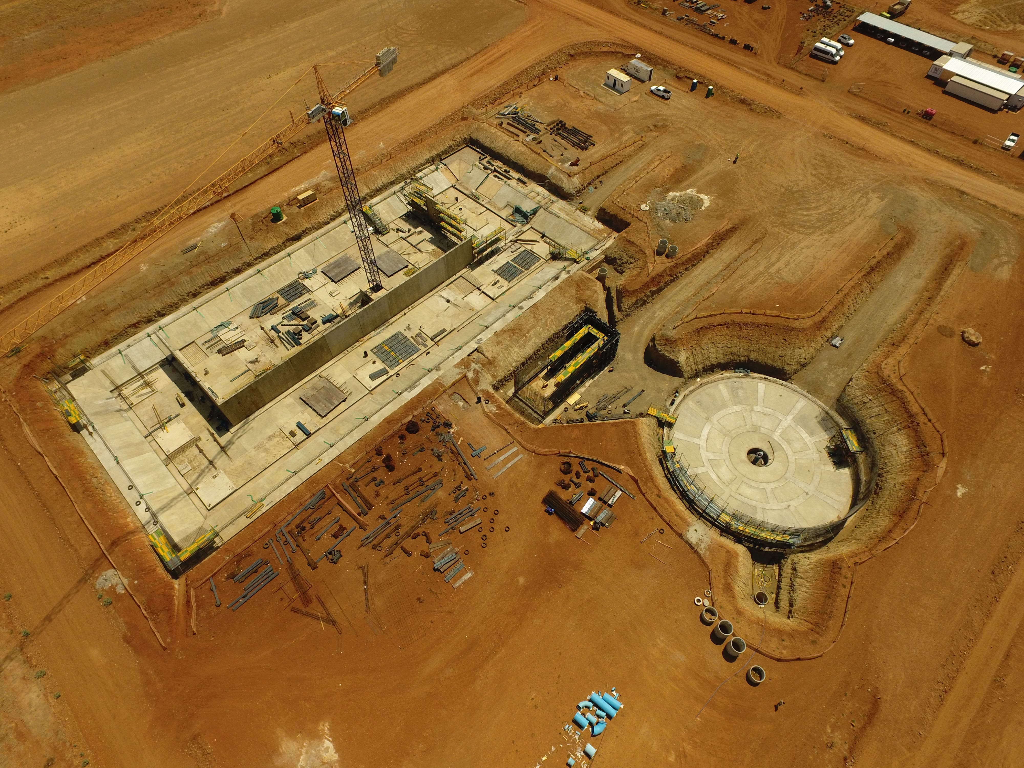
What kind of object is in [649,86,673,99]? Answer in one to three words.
vehicle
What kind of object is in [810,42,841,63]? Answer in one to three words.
vehicle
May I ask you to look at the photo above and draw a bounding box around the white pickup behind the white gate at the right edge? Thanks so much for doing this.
[1002,132,1023,148]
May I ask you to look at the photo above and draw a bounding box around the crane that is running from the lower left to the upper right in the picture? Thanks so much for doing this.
[0,54,407,367]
